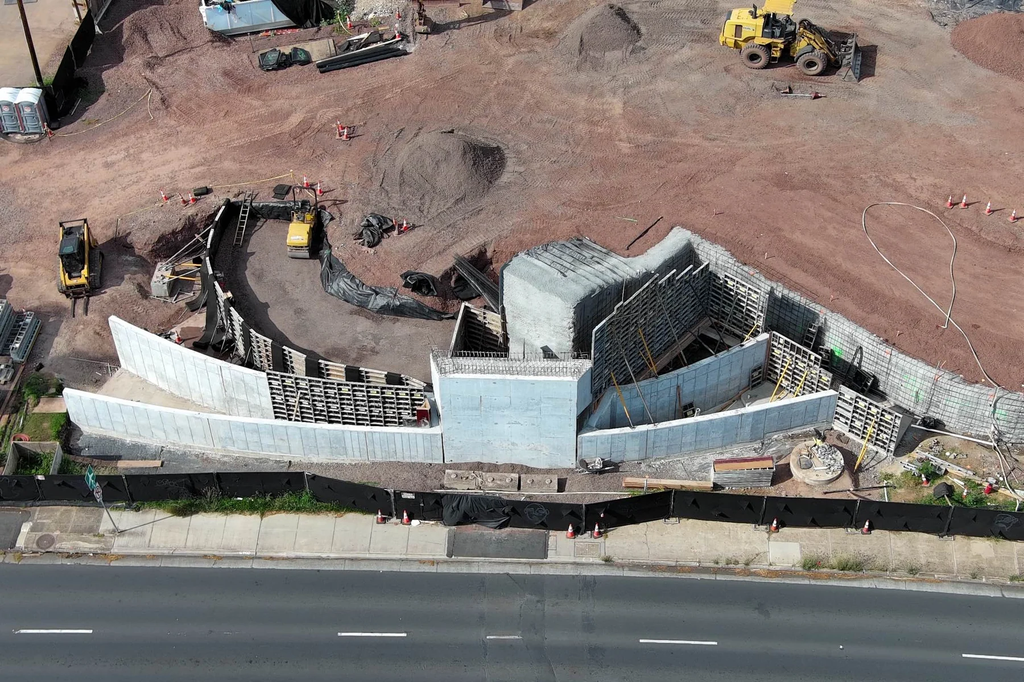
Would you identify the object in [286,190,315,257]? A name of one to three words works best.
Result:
work vehicle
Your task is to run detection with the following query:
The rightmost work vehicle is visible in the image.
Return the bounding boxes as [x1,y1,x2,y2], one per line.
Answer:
[711,0,859,87]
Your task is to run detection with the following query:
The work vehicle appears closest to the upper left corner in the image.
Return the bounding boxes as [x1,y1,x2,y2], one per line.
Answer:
[55,215,106,314]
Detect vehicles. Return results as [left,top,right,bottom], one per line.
[286,190,315,257]
[711,0,859,87]
[413,0,432,31]
[55,215,106,314]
